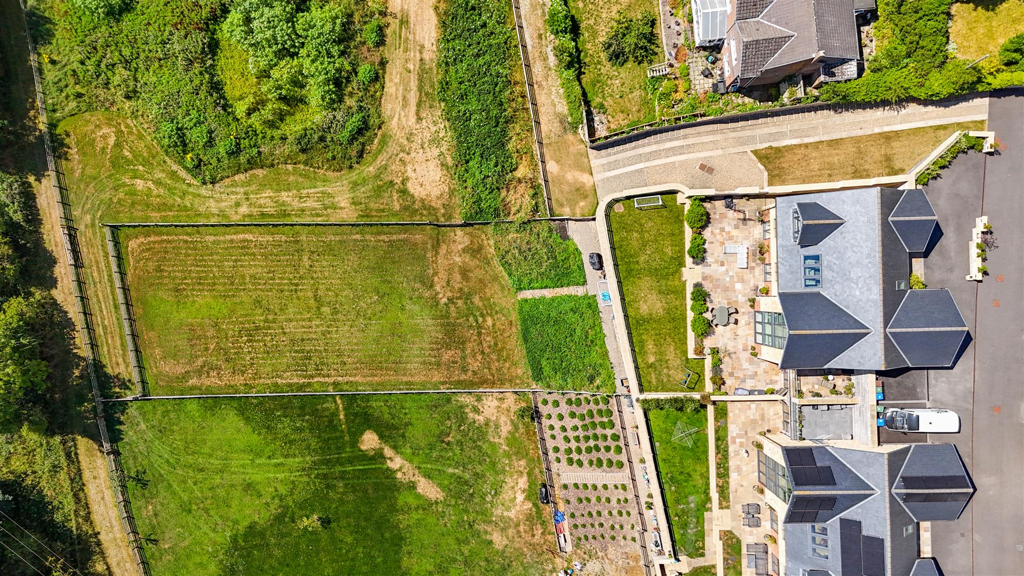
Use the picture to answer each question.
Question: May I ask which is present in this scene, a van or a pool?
van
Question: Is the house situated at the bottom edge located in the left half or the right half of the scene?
right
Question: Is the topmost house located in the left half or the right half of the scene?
right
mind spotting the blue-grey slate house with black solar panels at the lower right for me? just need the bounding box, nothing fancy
[757,433,975,576]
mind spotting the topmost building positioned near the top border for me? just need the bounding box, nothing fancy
[683,0,882,94]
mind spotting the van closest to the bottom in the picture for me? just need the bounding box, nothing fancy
[883,406,961,435]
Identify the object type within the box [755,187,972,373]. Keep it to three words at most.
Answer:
house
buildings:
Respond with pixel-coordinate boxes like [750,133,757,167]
[757,433,975,576]
[683,0,882,94]
[755,187,972,373]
